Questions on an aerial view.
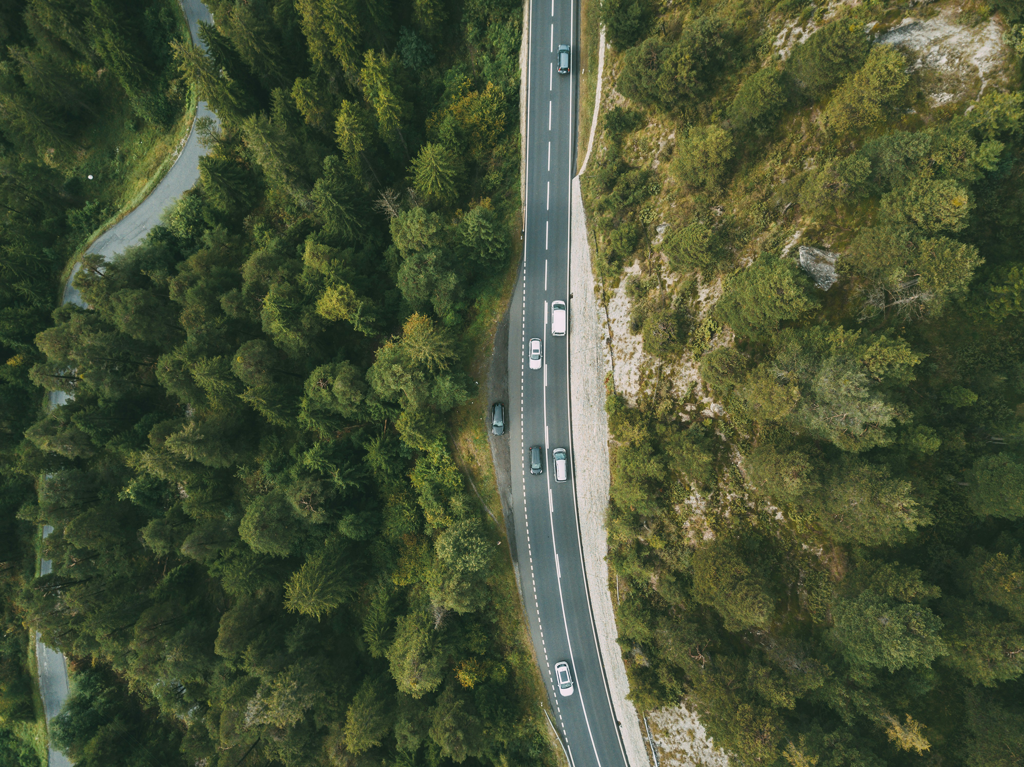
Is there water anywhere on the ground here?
No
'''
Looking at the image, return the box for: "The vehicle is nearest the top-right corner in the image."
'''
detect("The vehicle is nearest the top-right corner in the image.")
[557,45,571,76]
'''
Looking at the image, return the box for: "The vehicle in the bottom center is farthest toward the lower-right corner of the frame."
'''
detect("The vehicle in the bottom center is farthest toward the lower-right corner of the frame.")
[555,661,573,695]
